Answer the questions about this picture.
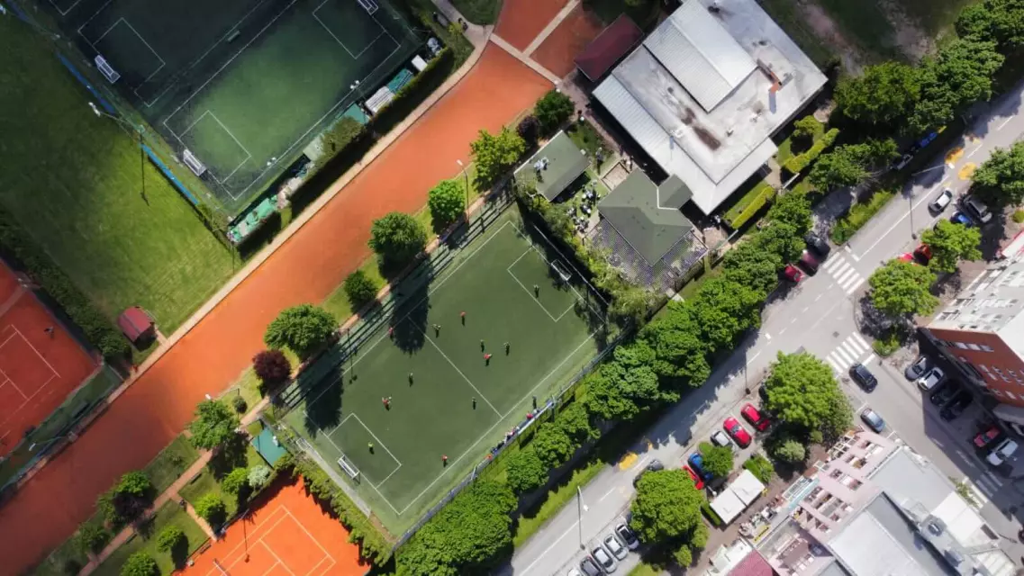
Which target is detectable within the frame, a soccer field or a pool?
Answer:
soccer field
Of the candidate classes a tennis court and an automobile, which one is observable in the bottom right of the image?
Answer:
automobile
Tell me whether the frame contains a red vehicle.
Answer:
Yes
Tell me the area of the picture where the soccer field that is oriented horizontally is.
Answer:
top left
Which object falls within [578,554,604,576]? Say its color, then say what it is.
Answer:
gray car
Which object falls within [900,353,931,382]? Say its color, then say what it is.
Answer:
gray car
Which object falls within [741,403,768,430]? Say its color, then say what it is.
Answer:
red car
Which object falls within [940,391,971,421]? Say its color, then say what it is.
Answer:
black car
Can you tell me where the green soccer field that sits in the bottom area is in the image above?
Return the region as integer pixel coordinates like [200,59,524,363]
[280,200,623,532]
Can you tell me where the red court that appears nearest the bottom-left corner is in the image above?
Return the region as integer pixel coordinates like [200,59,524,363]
[0,294,98,457]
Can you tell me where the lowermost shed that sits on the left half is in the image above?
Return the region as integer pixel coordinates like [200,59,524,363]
[253,429,292,469]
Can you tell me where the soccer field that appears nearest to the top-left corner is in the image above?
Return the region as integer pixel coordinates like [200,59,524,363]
[19,0,263,113]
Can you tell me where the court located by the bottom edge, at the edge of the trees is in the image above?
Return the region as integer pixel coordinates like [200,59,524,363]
[187,474,384,576]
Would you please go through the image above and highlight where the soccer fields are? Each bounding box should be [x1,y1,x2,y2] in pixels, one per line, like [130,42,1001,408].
[19,0,263,113]
[280,200,623,532]
[126,0,421,222]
